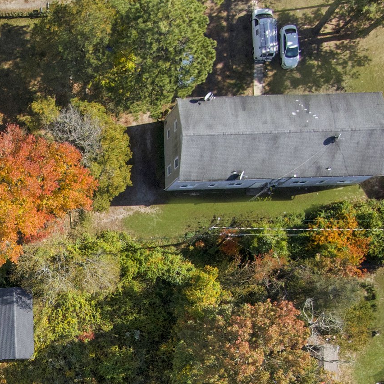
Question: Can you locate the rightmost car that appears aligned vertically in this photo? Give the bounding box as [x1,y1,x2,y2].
[278,23,303,72]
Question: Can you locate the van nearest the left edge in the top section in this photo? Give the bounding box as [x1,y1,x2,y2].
[249,9,277,64]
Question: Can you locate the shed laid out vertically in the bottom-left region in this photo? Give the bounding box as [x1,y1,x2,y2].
[0,287,34,360]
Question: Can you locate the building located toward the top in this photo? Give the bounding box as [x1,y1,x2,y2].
[166,88,384,194]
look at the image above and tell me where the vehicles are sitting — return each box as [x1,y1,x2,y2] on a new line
[249,9,277,64]
[278,23,303,72]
